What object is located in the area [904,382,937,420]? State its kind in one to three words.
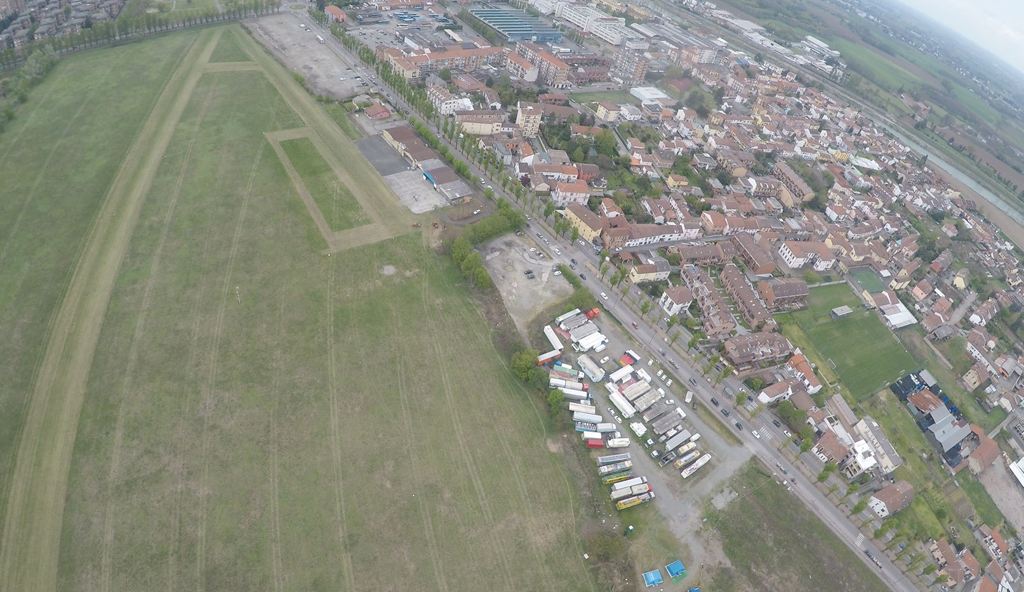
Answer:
building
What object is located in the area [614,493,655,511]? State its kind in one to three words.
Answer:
vehicle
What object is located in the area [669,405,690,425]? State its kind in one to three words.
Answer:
bus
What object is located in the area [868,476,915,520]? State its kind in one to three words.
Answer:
house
